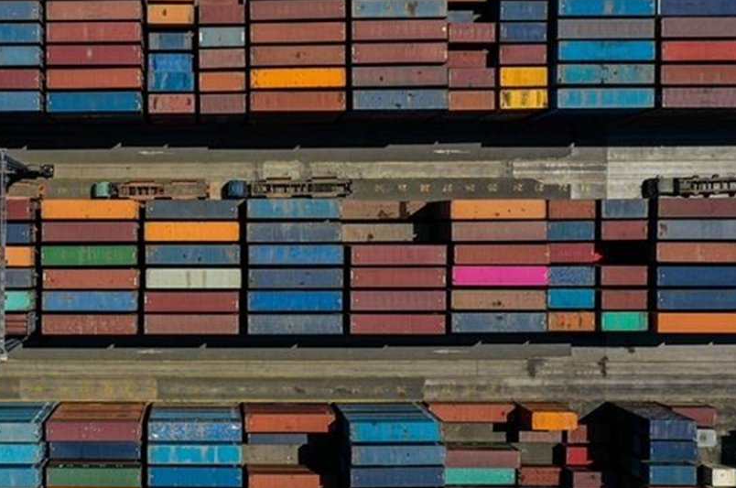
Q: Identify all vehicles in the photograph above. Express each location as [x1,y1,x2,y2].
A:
[2,181,51,200]
[225,178,351,200]
[91,178,208,200]
[646,175,736,198]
